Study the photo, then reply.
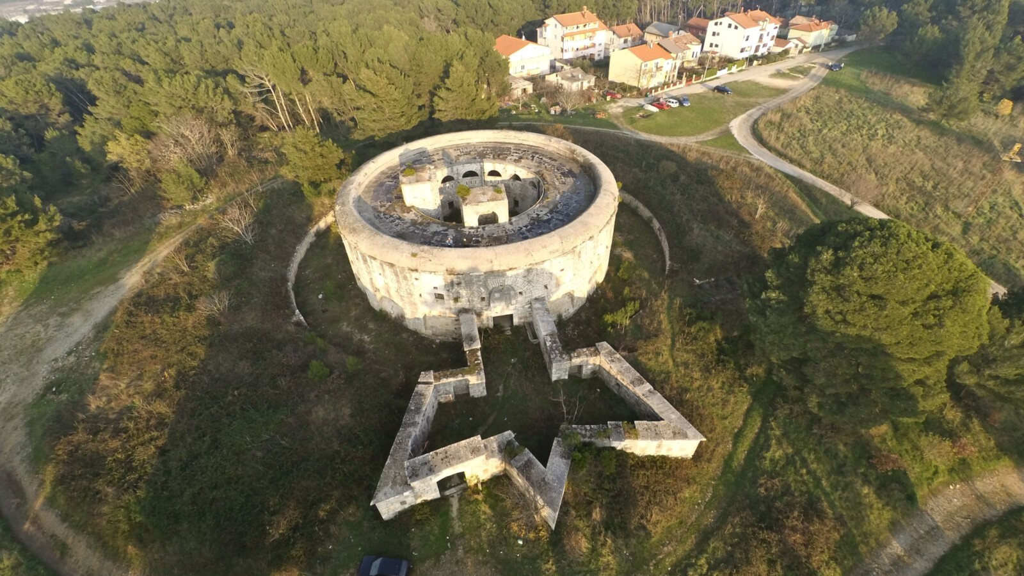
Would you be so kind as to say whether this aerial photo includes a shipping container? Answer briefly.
No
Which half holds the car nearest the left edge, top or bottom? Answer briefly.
bottom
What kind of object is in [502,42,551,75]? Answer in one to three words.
house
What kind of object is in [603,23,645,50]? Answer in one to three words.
house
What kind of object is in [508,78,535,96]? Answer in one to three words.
shed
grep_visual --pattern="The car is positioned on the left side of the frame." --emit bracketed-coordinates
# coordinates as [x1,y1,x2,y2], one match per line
[357,554,410,576]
